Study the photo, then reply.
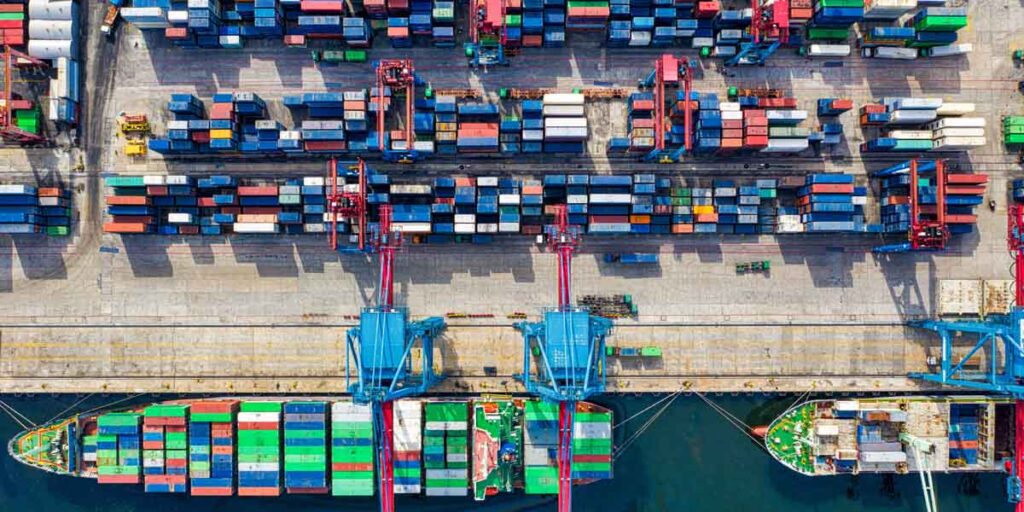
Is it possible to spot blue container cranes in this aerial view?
Yes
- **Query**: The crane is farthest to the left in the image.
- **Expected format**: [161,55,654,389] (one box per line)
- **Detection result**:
[0,45,55,145]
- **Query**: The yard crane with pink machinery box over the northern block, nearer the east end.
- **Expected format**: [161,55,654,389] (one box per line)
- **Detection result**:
[727,0,795,67]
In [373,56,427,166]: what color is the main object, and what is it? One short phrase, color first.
red crane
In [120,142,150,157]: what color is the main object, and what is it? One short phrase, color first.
yellow work vehicle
